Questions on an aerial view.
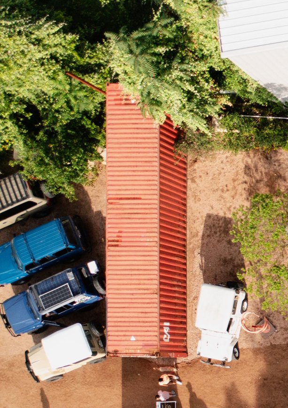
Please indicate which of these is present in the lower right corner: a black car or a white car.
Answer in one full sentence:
You can see a white car in the lower right corner.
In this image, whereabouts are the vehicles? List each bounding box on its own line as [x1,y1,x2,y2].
[26,321,115,386]
[0,169,75,240]
[1,261,107,336]
[193,278,248,374]
[0,213,104,284]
